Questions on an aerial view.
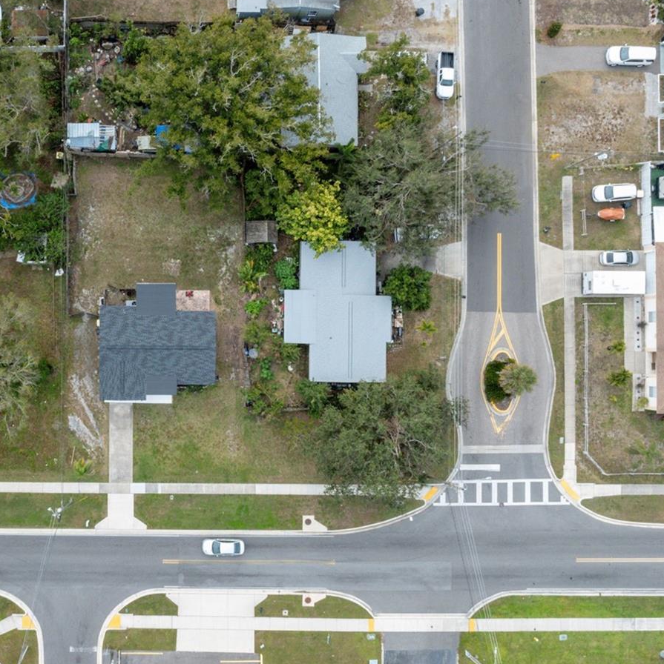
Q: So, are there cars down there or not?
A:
Yes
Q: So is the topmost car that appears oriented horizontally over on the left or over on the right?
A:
right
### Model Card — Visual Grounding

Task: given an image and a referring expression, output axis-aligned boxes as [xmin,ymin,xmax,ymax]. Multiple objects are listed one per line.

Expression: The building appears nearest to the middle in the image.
[284,242,391,382]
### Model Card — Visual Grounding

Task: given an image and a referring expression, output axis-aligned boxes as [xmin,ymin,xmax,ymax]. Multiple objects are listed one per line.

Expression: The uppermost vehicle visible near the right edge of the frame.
[605,44,658,66]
